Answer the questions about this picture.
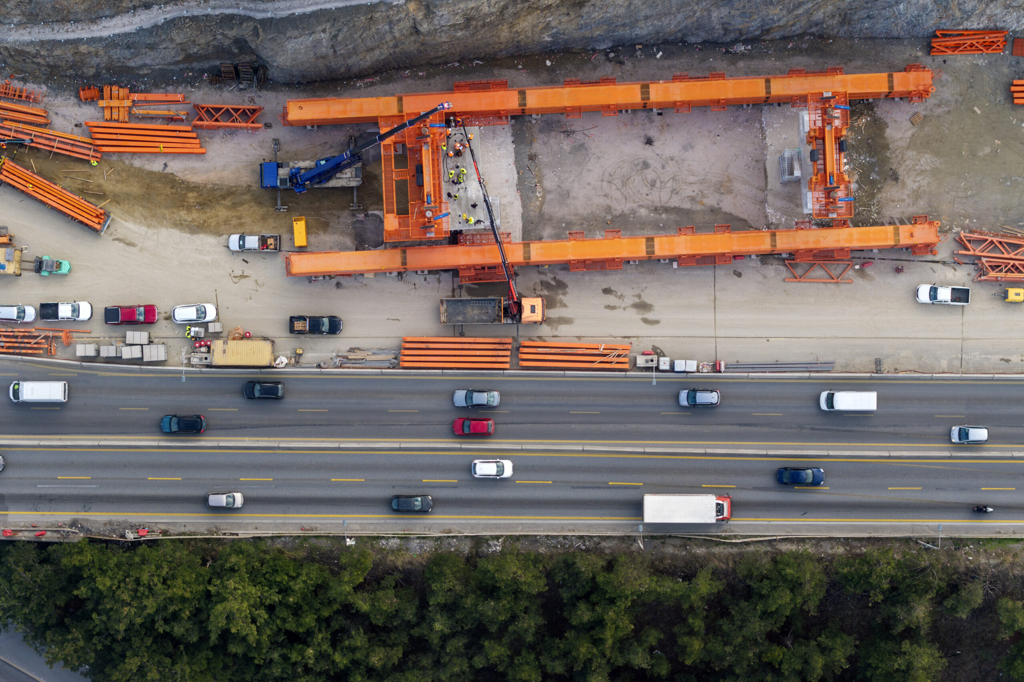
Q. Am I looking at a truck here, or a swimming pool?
truck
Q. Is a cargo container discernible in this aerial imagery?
Yes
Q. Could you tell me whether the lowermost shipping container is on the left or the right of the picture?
left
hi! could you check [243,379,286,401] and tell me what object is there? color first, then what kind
black car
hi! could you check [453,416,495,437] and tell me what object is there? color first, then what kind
red car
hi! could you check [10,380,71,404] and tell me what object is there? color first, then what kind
white vehicle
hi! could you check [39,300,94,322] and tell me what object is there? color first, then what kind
white truck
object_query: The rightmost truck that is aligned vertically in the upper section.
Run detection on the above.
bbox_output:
[441,120,546,350]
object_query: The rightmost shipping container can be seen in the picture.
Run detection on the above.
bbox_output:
[211,340,275,366]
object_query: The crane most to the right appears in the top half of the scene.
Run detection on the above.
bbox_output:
[261,101,454,212]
